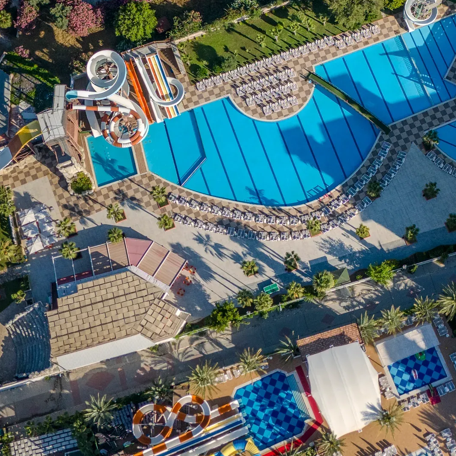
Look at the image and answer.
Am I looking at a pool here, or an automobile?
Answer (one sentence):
This aerial view contains a pool.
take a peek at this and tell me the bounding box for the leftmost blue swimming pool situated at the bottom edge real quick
[231,368,313,452]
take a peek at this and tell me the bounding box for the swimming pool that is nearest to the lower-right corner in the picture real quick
[382,344,451,398]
